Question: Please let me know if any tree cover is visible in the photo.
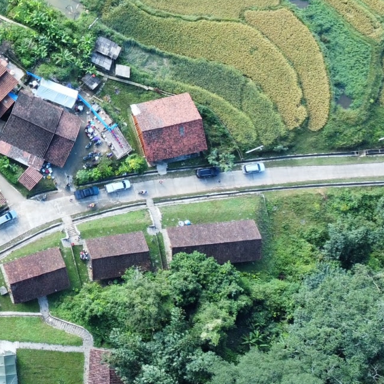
Yes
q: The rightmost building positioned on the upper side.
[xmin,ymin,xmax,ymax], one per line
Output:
[130,92,207,163]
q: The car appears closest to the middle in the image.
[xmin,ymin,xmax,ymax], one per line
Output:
[193,165,220,179]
